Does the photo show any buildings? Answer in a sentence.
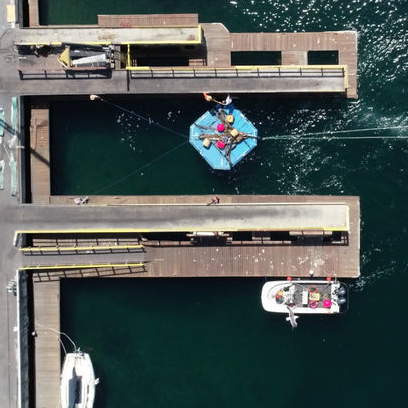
No, there appears to be no building in this shot.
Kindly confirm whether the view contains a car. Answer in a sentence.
No, no car is visible in the scene.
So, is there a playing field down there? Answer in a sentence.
No, the scene contains no playing field.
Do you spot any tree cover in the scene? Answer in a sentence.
No, the picture contains no tree cover.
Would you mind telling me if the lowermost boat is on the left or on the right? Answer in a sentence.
The lowermost boat is on the left side of the image.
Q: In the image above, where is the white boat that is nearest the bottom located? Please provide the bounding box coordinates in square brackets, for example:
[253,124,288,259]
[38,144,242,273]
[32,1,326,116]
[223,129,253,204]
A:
[61,350,99,408]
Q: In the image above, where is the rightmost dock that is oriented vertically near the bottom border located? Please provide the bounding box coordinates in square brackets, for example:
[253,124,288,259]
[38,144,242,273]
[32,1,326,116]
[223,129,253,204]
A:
[34,278,63,408]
